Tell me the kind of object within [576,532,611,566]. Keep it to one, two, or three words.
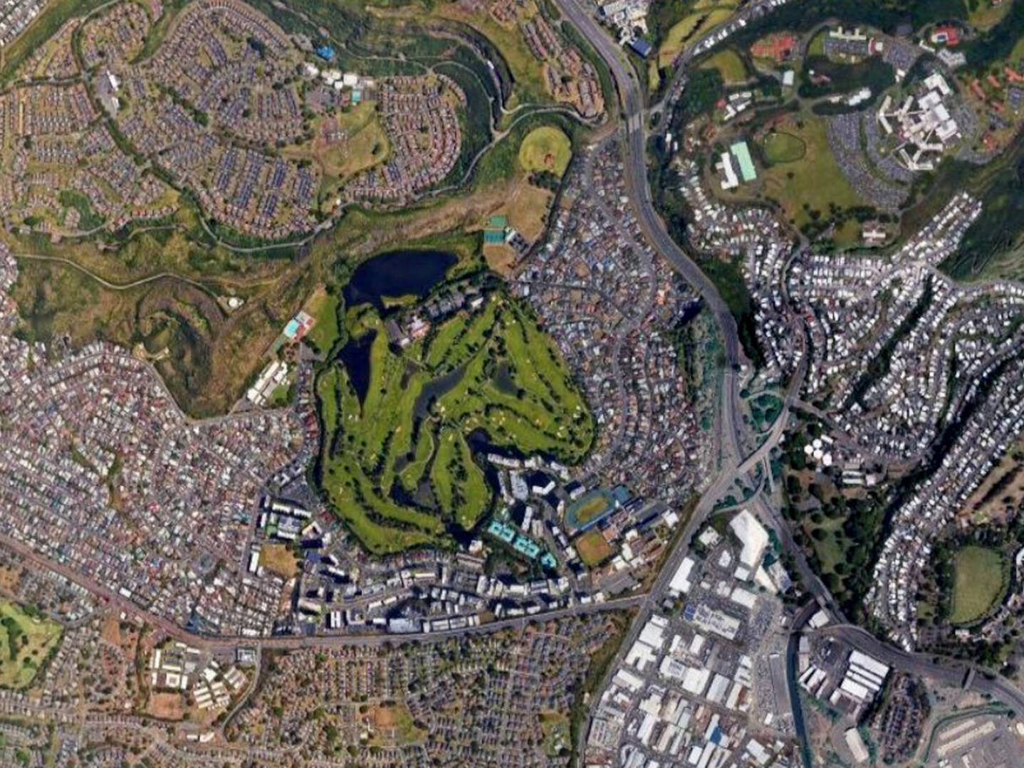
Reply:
sports field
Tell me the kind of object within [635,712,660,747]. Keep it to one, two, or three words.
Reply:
building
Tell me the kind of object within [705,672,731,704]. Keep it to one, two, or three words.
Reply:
building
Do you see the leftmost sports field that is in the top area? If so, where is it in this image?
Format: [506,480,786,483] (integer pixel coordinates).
[504,189,554,235]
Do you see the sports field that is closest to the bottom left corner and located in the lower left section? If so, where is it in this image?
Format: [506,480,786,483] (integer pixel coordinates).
[149,694,185,719]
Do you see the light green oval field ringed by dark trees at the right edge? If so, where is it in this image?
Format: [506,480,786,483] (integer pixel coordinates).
[951,547,1003,622]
